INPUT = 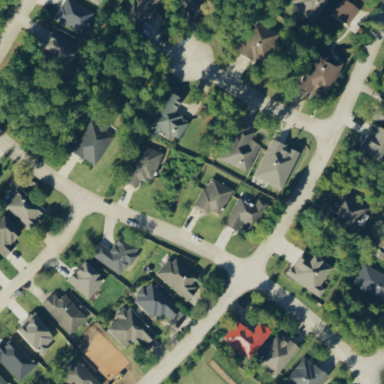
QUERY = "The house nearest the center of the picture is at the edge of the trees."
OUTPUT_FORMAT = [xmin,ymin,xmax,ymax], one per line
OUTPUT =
[195,176,236,218]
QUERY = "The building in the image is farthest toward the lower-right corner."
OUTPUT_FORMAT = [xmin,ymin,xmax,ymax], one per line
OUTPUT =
[286,357,326,384]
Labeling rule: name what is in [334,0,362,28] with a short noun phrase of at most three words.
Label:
house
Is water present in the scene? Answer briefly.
No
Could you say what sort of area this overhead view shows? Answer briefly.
residential area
